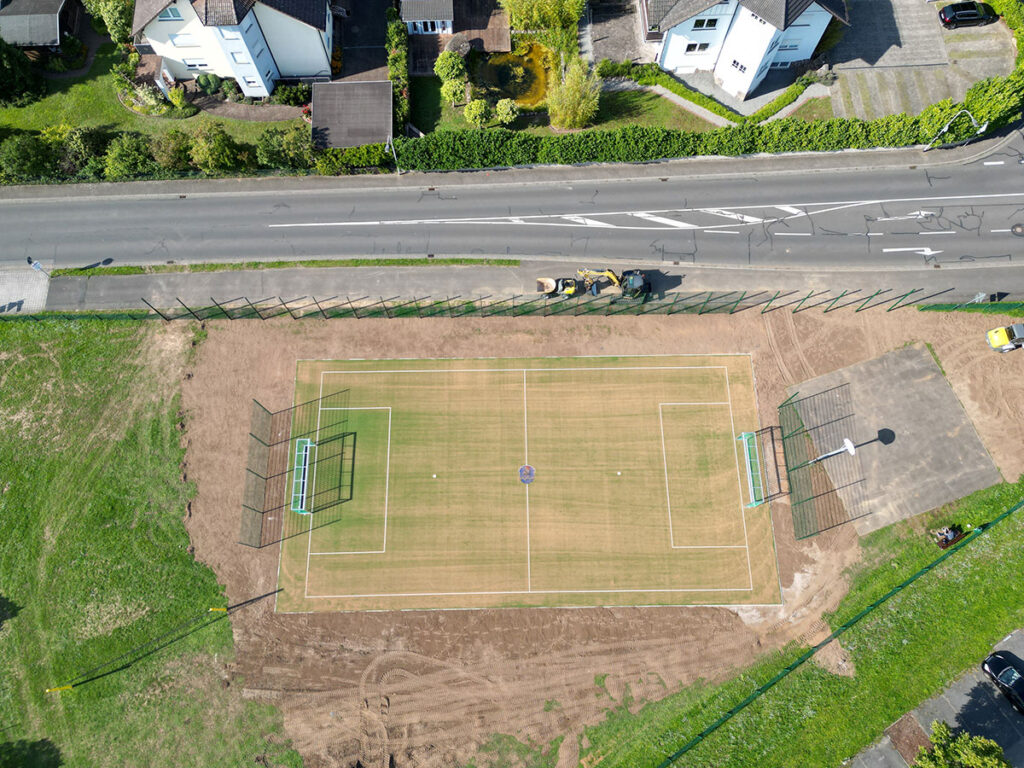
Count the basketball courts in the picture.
1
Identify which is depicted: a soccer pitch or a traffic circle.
soccer pitch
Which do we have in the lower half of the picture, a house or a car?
car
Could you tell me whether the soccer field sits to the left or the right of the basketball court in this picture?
left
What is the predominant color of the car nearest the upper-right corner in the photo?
black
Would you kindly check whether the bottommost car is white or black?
black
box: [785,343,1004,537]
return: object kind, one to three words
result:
basketball court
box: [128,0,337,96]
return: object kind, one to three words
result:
house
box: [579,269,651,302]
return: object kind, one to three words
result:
work vehicle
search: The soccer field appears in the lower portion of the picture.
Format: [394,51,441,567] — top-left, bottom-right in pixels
[275,352,782,614]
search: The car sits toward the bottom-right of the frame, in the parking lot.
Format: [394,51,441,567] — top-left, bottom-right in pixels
[982,653,1024,718]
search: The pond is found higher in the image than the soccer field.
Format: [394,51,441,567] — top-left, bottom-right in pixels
[482,47,552,107]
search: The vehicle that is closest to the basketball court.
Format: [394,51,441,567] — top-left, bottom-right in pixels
[980,320,1024,355]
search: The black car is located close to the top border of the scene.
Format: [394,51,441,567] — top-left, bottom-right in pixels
[937,1,990,30]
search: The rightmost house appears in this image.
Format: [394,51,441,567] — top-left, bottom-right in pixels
[627,0,845,101]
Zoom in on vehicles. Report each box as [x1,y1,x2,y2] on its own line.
[980,320,1024,355]
[982,653,1024,718]
[579,269,651,302]
[538,276,576,302]
[937,1,990,30]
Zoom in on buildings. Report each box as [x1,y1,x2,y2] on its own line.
[400,0,454,33]
[312,80,396,161]
[0,0,74,61]
[128,0,337,96]
[627,0,845,101]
